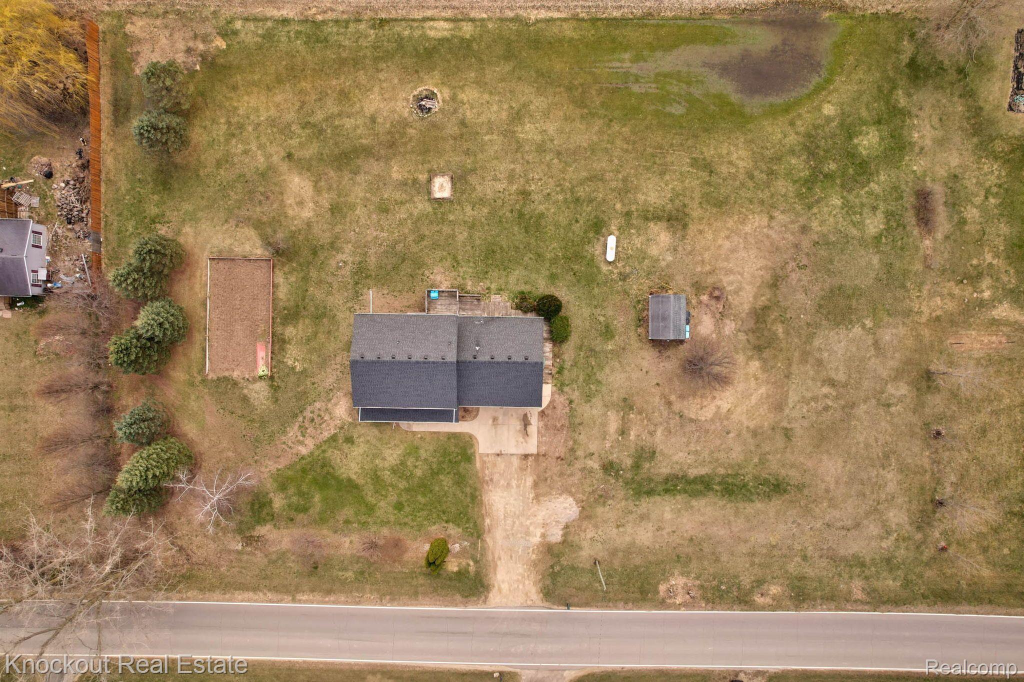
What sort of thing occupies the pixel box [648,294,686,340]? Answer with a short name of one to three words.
shed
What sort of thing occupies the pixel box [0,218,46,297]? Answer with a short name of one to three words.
house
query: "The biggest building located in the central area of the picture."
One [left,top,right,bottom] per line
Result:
[350,311,544,422]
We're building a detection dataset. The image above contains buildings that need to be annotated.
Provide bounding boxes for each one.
[648,294,686,340]
[350,311,544,422]
[0,218,46,297]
